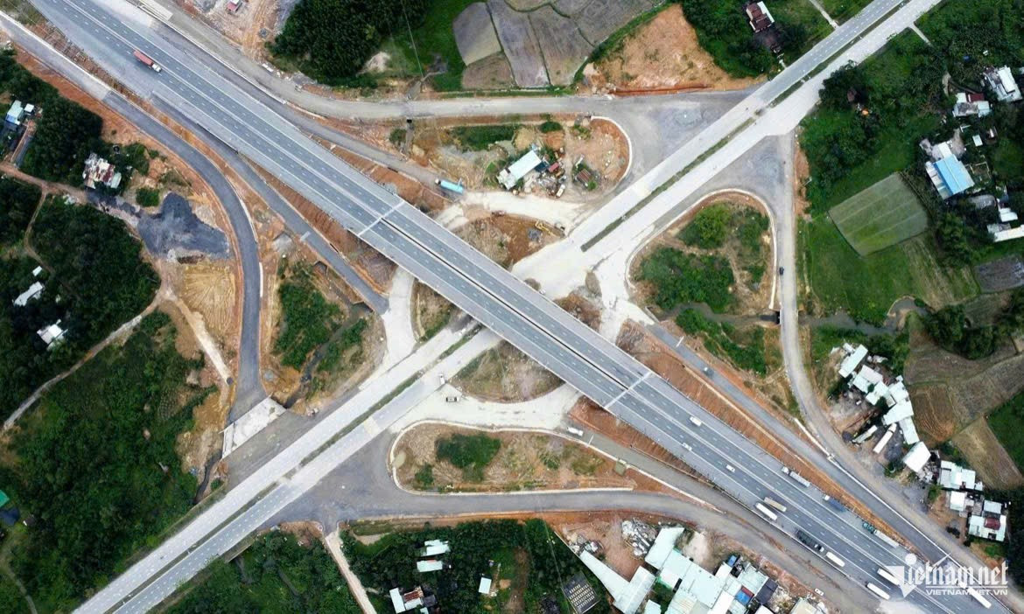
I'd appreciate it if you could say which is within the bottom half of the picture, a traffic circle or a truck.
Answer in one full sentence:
It is a truck that can be seen within the bottom half of the picture.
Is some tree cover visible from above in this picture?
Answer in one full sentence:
Yes, tree cover can be seen from above here.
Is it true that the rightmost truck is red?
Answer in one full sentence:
No, from above the rightmost truck looks white.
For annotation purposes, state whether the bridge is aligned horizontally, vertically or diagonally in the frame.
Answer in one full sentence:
The bridge has been laid out diagonally relative to the frame.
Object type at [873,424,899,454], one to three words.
truck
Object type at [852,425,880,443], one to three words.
vehicle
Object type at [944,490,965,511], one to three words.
house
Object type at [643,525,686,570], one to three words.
building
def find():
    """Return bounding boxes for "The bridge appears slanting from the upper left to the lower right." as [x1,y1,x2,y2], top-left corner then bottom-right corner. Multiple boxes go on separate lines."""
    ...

[358,201,651,407]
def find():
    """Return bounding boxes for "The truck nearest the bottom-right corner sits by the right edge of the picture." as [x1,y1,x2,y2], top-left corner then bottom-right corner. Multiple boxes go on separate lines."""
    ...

[960,579,999,614]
